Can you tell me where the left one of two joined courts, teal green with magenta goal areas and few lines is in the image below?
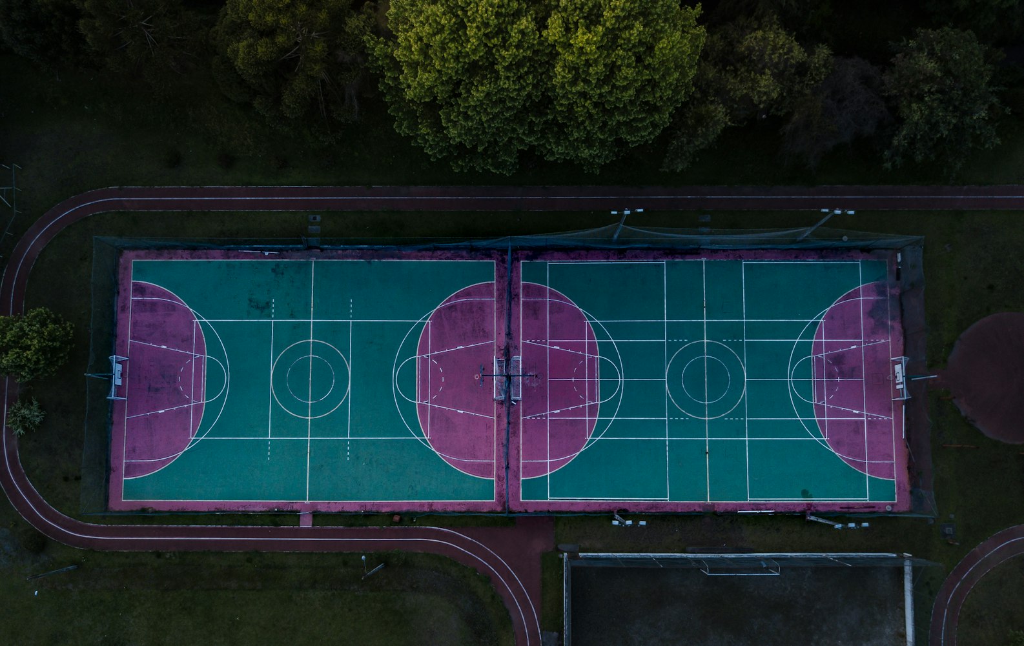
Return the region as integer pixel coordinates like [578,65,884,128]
[107,249,509,512]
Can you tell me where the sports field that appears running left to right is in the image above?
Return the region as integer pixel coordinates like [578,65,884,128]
[567,555,907,646]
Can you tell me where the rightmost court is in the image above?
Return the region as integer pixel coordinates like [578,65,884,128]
[509,249,911,512]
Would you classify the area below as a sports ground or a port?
sports ground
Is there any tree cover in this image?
Yes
